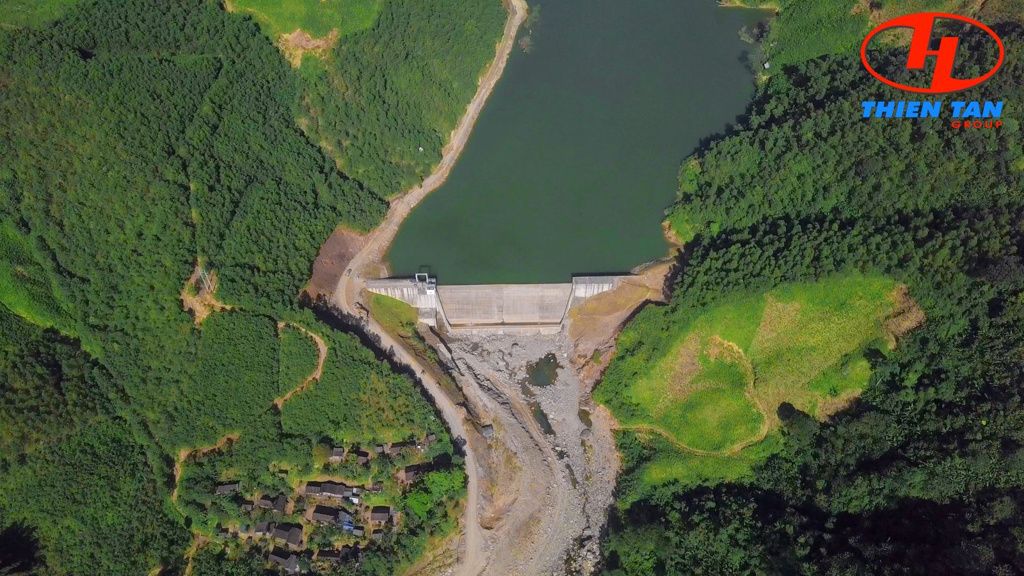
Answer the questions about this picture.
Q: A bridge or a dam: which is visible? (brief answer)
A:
dam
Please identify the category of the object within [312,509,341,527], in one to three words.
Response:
house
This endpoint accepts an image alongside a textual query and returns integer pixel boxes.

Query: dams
[365,275,635,339]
